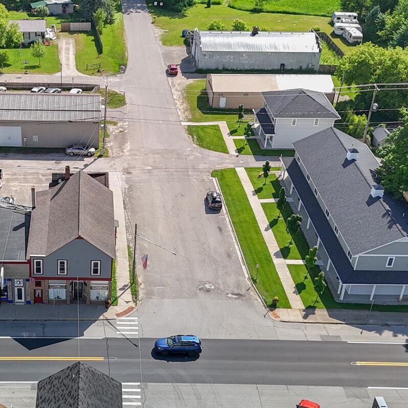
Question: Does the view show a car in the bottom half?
Yes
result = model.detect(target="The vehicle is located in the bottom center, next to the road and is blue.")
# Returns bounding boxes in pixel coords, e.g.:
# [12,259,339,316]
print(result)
[151,330,202,356]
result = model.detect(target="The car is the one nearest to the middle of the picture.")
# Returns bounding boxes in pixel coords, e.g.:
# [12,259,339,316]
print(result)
[201,185,225,210]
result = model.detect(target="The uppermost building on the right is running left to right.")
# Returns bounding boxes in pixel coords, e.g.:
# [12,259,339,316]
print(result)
[191,22,323,71]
